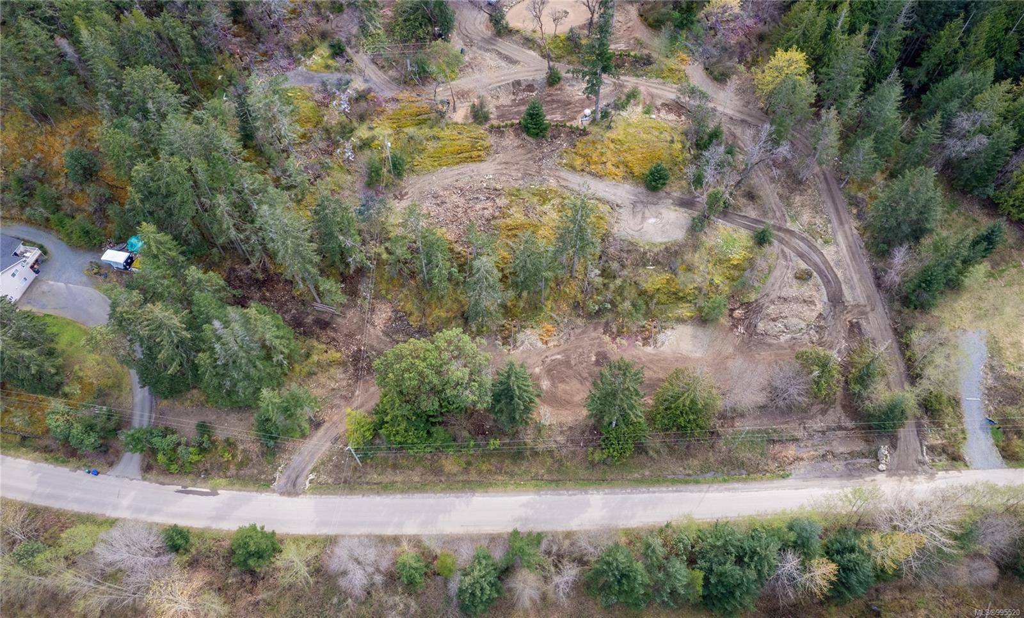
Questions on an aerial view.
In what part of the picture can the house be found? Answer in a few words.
left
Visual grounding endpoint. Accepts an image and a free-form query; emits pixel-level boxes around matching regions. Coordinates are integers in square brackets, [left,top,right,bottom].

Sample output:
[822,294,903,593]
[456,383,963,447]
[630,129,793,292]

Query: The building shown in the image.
[0,238,48,311]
